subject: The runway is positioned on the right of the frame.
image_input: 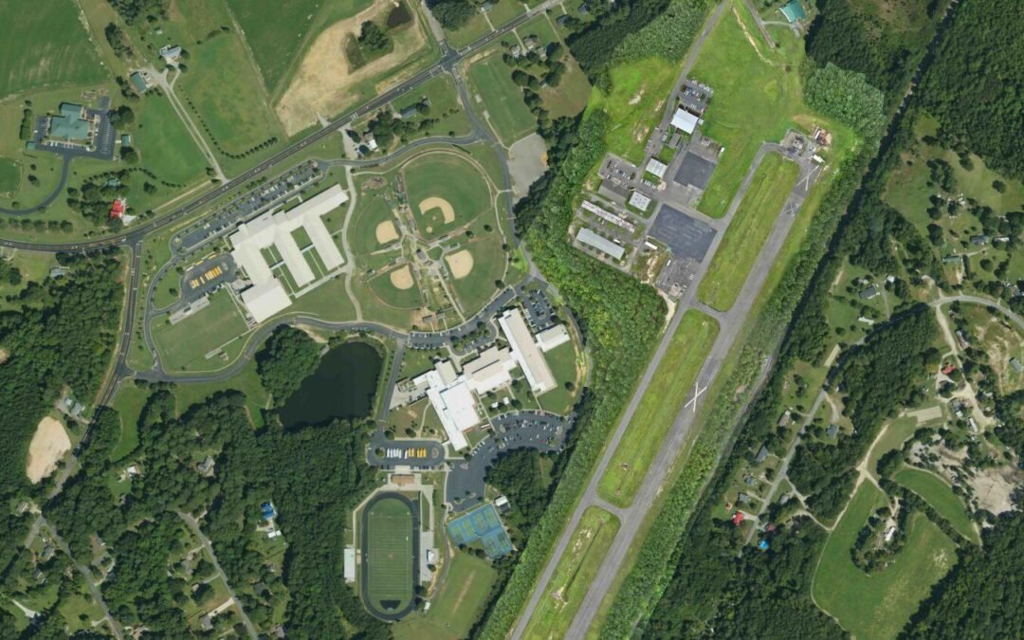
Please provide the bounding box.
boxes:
[563,138,825,640]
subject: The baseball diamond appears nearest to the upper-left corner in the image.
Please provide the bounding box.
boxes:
[351,196,402,254]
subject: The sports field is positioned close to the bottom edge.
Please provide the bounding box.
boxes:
[368,498,413,614]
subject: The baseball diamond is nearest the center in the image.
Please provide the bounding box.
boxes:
[440,237,506,313]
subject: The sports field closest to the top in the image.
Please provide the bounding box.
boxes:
[475,47,526,145]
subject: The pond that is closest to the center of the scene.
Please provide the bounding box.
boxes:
[279,341,383,424]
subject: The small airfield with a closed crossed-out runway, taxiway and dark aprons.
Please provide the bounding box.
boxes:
[508,129,826,640]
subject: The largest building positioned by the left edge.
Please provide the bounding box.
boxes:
[50,103,100,140]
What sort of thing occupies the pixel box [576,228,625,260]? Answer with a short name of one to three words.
hangar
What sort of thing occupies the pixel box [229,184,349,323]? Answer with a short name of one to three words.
building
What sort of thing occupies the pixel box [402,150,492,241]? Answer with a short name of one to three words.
baseball field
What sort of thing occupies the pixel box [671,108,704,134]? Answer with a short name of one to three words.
hangar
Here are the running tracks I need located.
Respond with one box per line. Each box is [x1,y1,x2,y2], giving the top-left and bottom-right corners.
[361,491,420,621]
